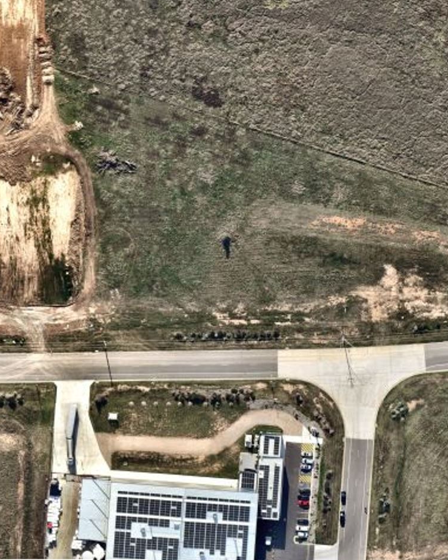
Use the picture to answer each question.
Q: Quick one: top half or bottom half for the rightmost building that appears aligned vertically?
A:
bottom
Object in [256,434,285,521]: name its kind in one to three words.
building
